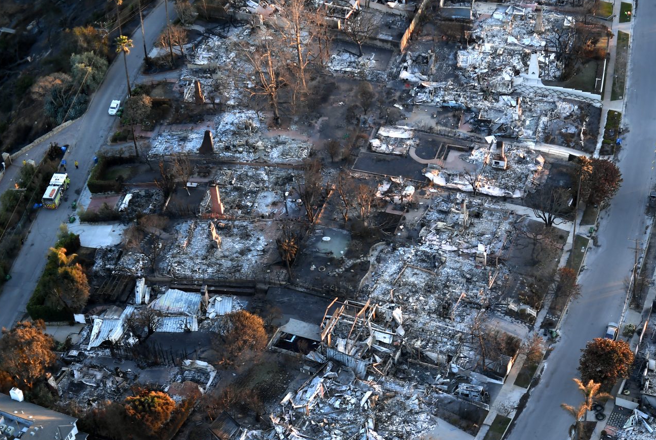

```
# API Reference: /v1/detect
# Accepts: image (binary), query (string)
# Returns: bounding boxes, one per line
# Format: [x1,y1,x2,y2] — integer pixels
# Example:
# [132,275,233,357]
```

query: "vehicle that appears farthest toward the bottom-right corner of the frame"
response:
[603,319,623,342]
